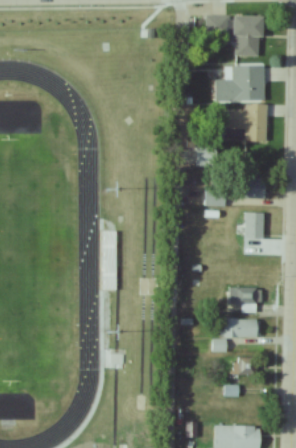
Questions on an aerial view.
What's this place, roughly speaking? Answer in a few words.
sports ground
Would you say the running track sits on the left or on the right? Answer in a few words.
left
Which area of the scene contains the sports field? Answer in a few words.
left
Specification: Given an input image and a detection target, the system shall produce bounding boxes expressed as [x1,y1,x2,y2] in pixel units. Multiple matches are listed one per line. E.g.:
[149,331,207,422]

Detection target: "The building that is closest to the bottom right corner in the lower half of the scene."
[212,423,262,448]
